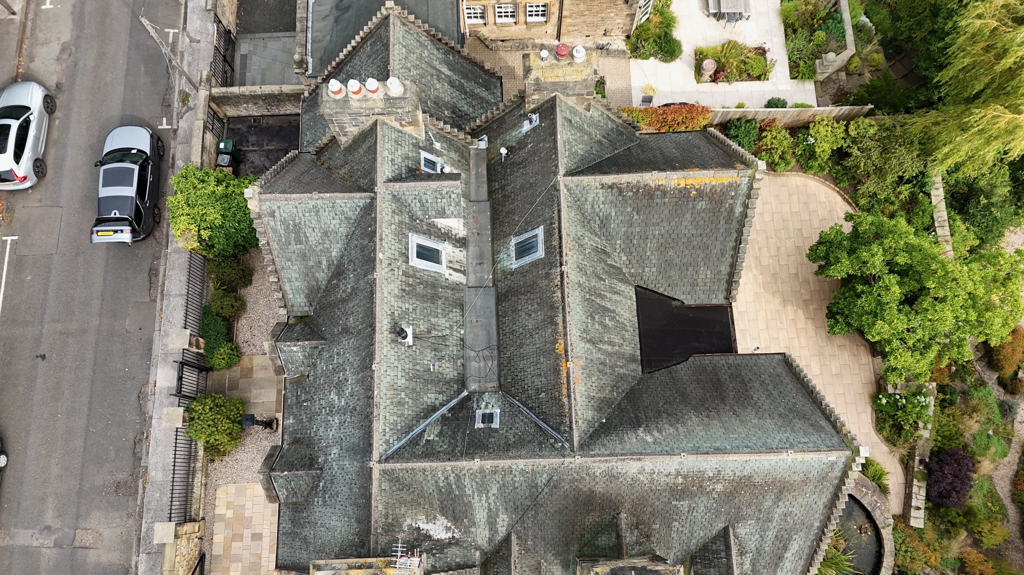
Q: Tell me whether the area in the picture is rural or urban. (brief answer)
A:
urban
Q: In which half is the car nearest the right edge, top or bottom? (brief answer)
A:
top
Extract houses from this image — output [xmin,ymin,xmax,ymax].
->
[462,0,650,44]
[246,6,867,575]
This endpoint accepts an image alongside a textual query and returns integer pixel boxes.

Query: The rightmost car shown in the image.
[84,126,167,251]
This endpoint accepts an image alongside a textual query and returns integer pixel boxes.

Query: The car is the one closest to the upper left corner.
[0,82,56,193]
